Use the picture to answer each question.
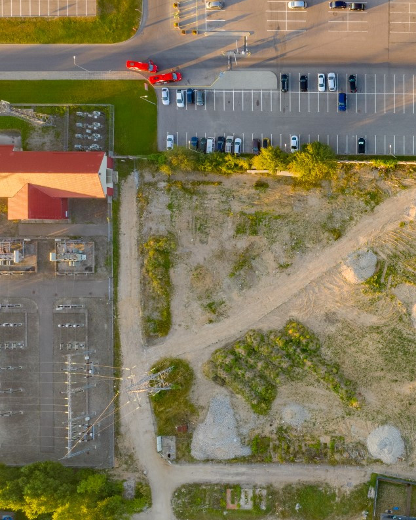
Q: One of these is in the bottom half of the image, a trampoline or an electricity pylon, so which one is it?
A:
electricity pylon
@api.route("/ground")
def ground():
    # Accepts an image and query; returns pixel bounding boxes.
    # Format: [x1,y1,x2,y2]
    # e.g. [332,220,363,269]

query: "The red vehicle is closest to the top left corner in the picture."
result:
[126,59,155,73]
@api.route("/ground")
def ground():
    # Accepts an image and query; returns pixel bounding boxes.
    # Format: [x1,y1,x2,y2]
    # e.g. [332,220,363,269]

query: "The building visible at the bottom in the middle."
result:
[158,435,179,460]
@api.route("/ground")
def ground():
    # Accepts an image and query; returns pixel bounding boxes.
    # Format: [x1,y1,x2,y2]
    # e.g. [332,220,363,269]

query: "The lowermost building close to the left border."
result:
[0,143,119,226]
